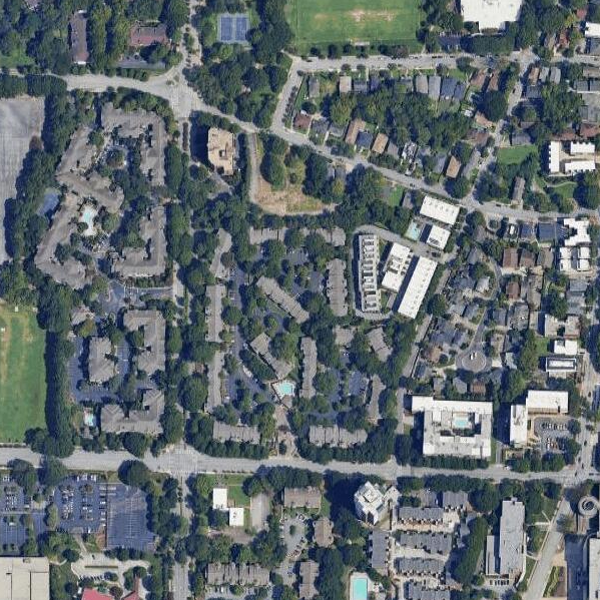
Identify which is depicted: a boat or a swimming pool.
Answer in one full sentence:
I can see a swimming pool in this picture.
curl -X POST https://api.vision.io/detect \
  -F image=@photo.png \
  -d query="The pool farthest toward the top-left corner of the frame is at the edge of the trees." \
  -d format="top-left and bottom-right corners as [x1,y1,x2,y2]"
[80,206,98,236]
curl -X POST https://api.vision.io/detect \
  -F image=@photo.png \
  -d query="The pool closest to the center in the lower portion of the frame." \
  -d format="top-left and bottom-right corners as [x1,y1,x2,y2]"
[274,379,297,398]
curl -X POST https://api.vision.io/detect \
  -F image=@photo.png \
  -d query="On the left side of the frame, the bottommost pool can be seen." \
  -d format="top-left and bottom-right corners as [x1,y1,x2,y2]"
[82,407,96,426]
